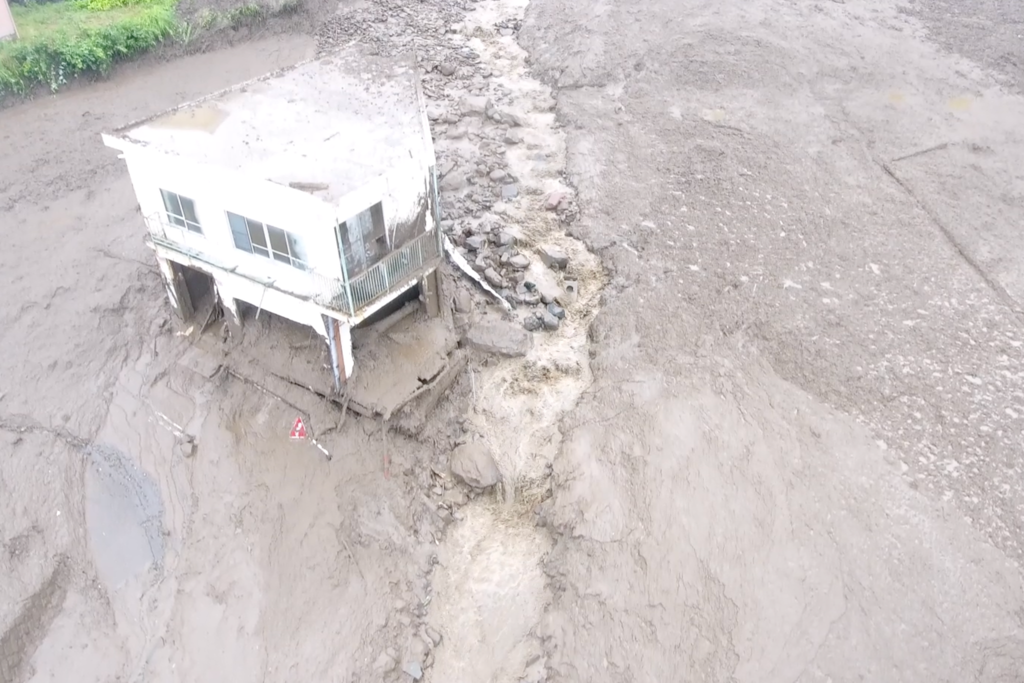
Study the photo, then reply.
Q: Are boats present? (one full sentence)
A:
No, there appears to be no boat in this shot.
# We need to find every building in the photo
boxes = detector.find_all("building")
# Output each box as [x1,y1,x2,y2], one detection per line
[0,0,20,40]
[99,41,476,441]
